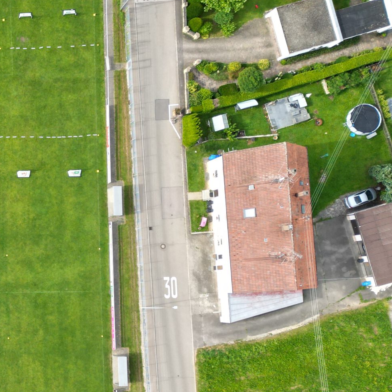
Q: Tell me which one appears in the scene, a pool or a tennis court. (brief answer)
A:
pool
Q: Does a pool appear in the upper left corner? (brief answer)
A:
No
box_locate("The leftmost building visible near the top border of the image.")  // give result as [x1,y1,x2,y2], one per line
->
[267,0,350,59]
